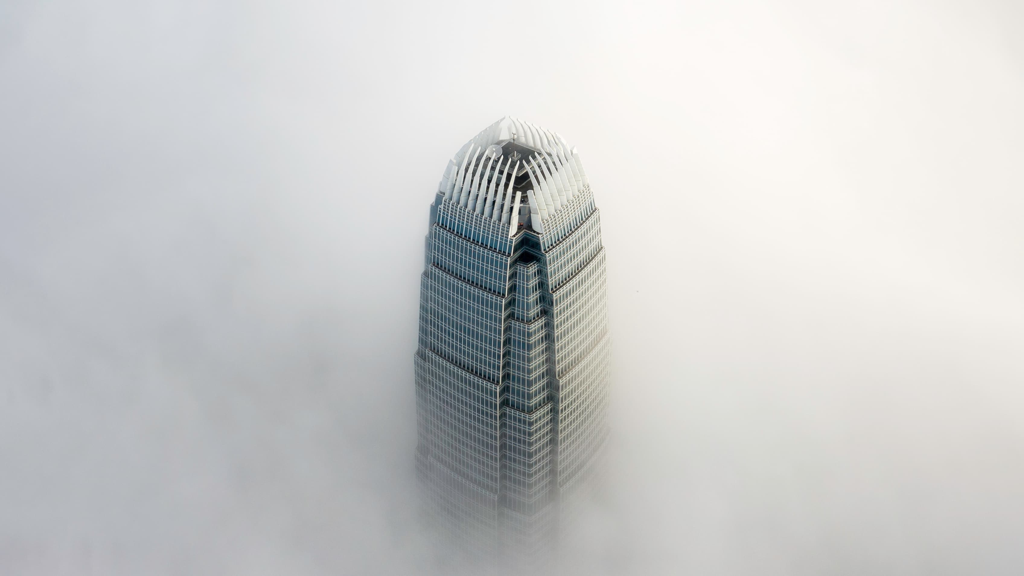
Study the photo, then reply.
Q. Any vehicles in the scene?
No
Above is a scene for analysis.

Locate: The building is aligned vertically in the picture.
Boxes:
[411,115,616,576]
